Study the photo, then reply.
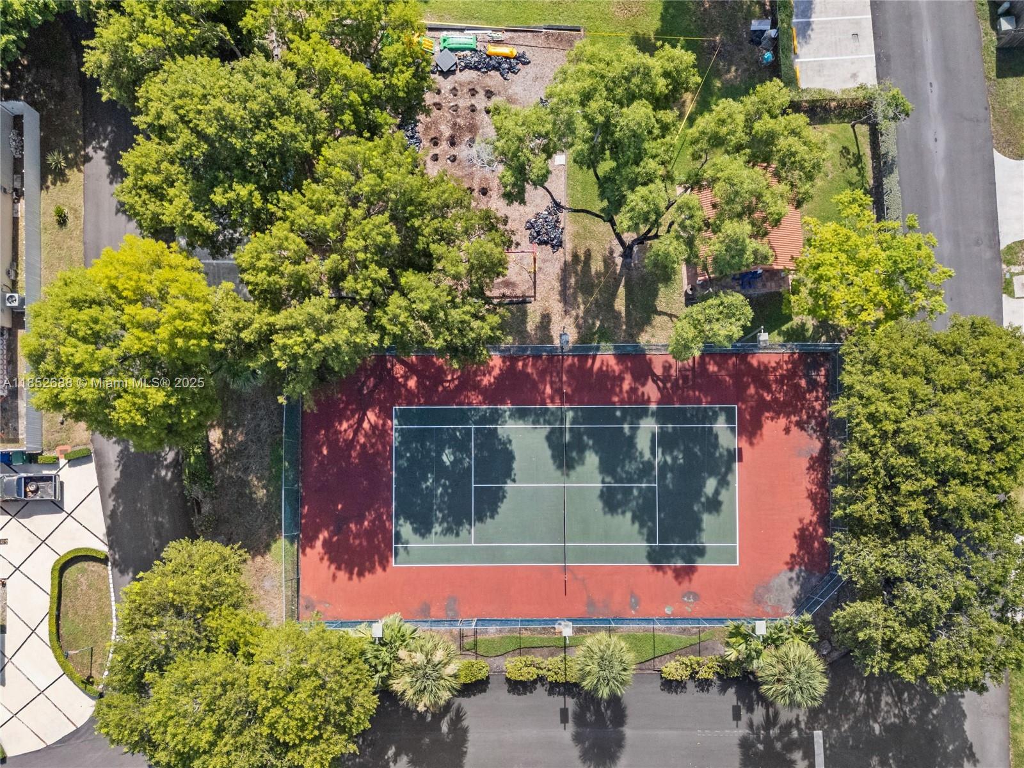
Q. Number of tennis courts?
one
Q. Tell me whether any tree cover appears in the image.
Yes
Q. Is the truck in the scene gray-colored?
Yes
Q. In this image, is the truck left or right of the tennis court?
to the left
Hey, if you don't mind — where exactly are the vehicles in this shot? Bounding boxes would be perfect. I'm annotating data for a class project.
[0,472,68,505]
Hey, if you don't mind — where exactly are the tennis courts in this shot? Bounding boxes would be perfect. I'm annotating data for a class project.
[299,353,831,619]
